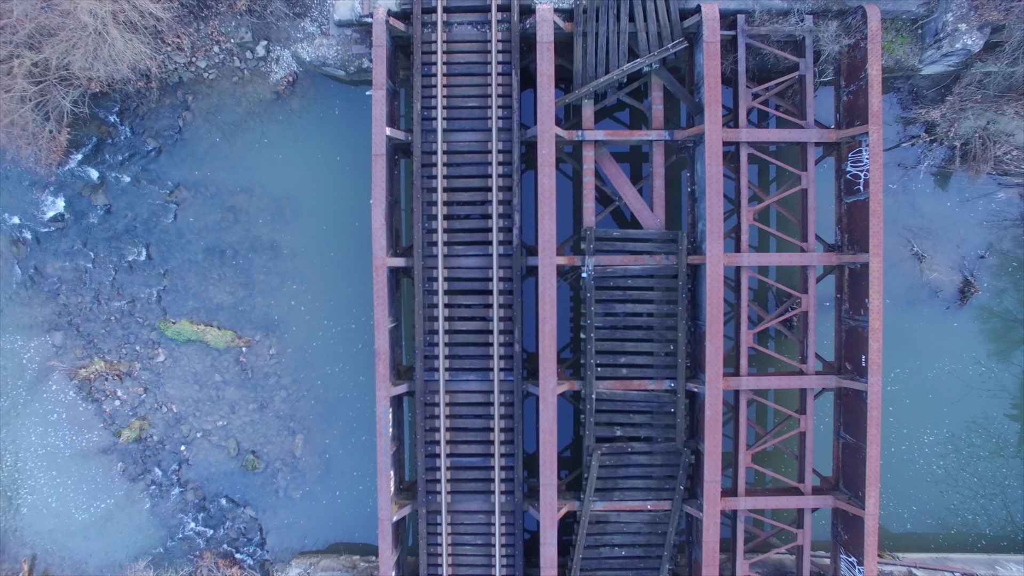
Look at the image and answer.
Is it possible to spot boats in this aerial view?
No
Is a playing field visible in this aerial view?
No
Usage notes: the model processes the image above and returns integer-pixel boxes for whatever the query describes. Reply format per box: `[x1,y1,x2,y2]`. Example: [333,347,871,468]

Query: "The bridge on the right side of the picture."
[368,7,886,576]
